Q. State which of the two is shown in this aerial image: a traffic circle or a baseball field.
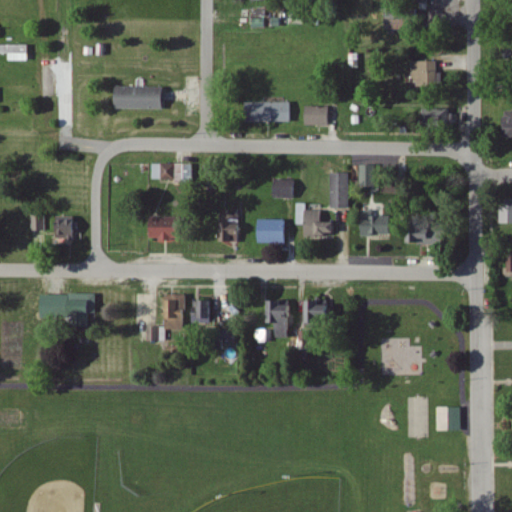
baseball field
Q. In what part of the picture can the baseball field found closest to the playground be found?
bottom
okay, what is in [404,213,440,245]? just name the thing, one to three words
house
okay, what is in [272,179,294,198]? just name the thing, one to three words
house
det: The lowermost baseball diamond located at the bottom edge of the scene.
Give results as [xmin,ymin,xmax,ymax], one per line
[198,479,339,512]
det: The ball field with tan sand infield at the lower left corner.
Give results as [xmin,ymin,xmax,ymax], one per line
[0,435,96,512]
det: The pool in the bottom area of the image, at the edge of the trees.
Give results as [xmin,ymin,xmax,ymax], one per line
[225,348,238,366]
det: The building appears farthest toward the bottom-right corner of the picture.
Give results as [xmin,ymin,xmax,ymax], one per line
[436,406,460,432]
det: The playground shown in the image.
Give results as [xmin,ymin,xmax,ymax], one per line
[382,338,426,376]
